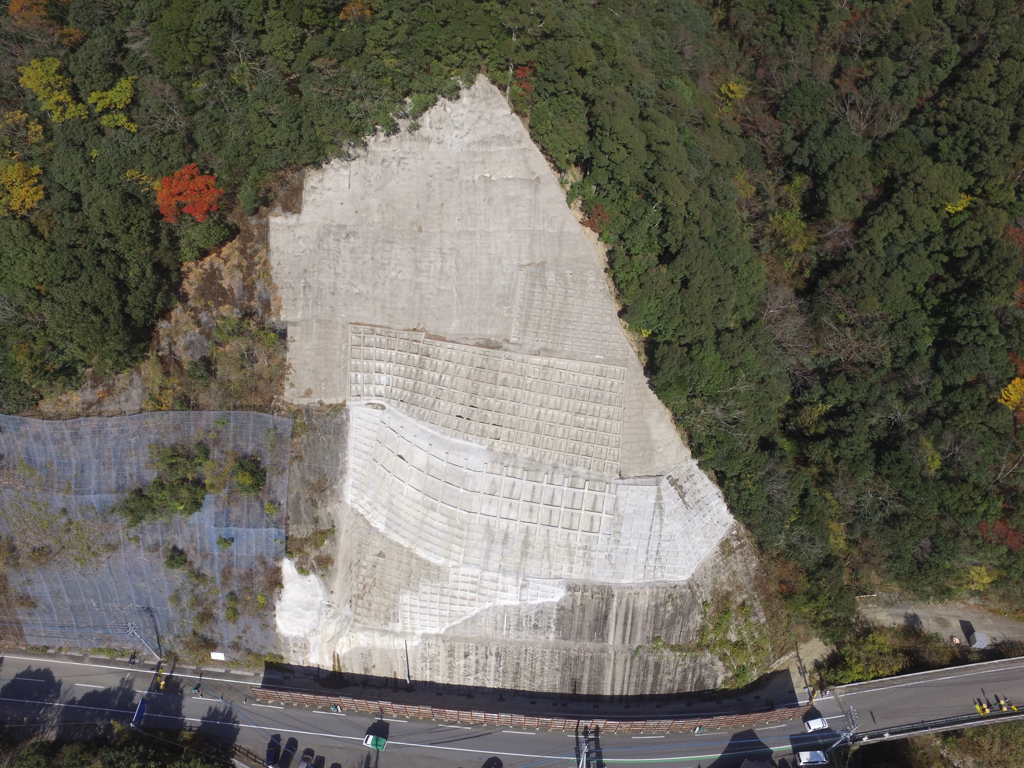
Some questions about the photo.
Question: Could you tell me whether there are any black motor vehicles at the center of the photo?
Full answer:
No, there is no black motor vehicle at the center of the photo.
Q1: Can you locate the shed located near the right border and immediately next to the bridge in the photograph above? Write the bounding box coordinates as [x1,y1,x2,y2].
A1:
[970,630,996,649]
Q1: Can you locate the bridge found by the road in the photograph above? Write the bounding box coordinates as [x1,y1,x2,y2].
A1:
[825,653,1024,749]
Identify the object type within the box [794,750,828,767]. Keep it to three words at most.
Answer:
car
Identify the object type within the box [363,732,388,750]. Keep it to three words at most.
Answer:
vehicle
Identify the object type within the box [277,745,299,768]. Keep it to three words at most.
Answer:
car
